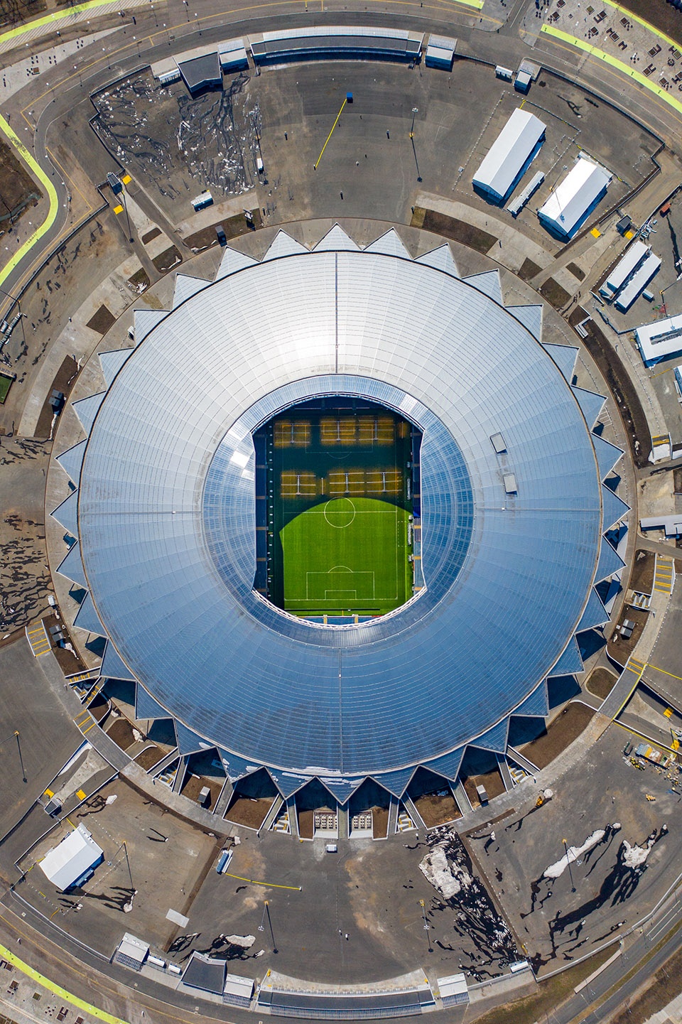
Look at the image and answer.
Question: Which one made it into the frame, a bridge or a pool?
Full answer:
This aerial view contains a bridge.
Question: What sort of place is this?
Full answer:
It's a sports ground.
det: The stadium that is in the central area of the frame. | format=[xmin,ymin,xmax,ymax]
[48,220,632,804]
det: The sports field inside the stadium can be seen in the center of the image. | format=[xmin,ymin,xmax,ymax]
[272,410,411,615]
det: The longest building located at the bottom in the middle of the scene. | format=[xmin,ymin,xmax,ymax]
[257,982,435,1019]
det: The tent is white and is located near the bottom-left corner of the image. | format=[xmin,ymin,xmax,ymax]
[39,820,106,890]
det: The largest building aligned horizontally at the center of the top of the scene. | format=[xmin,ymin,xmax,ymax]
[250,25,421,62]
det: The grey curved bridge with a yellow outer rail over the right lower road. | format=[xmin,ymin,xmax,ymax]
[598,657,647,720]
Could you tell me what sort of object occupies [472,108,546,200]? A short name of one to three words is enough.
tent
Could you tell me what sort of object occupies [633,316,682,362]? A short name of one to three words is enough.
shed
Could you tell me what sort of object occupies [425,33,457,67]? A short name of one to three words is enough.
building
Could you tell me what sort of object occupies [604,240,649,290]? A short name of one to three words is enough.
tent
